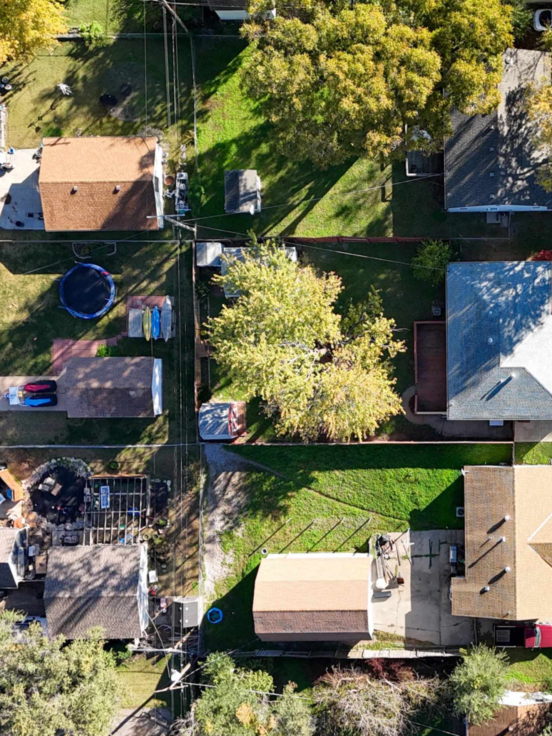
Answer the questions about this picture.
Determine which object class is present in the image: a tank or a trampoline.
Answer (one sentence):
Looking from above, you can make out a trampoline.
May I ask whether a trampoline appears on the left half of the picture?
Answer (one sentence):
Yes, a trampoline can be seen on the left half of the picture.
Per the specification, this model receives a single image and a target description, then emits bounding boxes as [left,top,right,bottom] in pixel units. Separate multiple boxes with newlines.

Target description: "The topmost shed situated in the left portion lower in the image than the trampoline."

[60,357,163,417]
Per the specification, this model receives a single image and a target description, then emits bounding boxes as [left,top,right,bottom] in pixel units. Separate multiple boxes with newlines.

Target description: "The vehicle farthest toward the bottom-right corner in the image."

[491,620,552,649]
